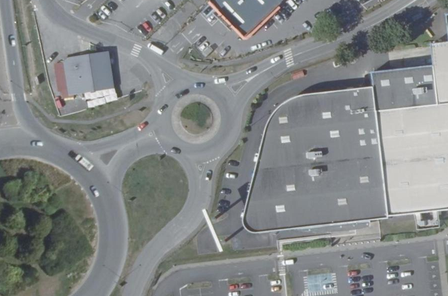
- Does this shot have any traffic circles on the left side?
Yes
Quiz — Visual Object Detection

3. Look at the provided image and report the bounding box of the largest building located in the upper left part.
[54,50,114,99]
